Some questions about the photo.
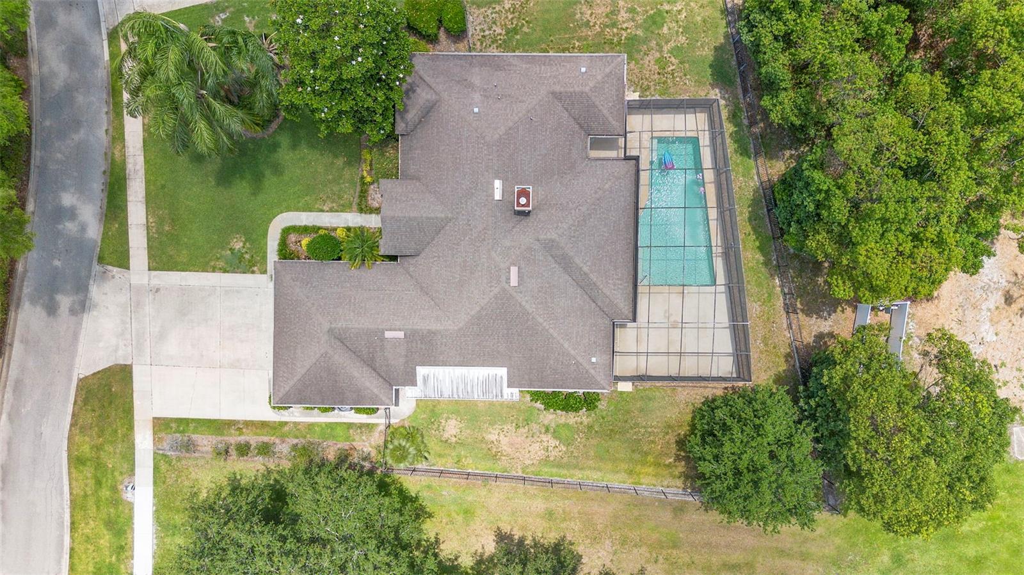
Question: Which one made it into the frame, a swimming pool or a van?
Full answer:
Looking from above, you can make out a swimming pool.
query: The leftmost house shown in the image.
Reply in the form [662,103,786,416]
[272,52,636,408]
